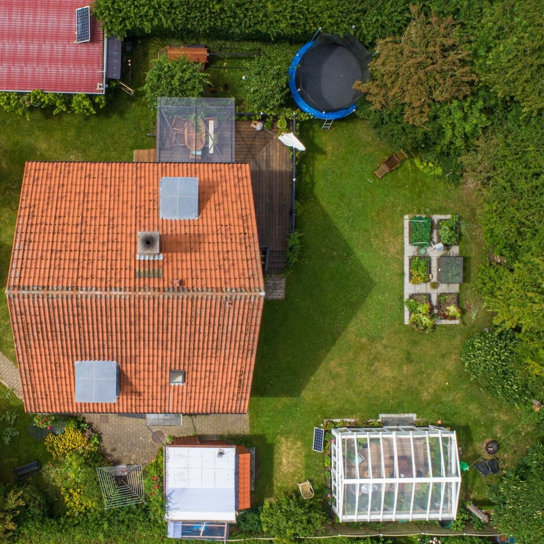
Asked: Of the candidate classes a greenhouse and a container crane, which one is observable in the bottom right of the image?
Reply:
greenhouse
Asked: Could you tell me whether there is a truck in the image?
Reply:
No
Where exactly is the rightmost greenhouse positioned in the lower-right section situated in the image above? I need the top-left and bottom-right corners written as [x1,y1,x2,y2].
[331,426,464,523]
